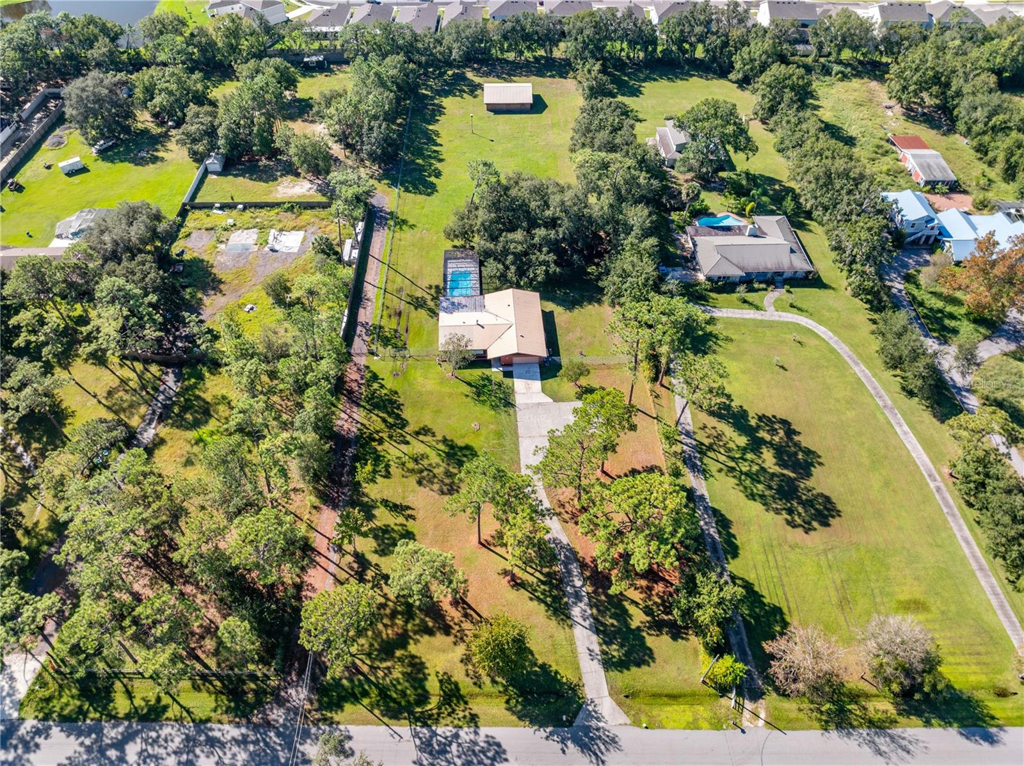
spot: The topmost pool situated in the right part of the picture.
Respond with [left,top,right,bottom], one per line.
[687,209,748,225]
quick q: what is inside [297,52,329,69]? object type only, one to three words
shed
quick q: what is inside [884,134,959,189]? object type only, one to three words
barn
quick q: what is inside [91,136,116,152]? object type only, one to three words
vehicle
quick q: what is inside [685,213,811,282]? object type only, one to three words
house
